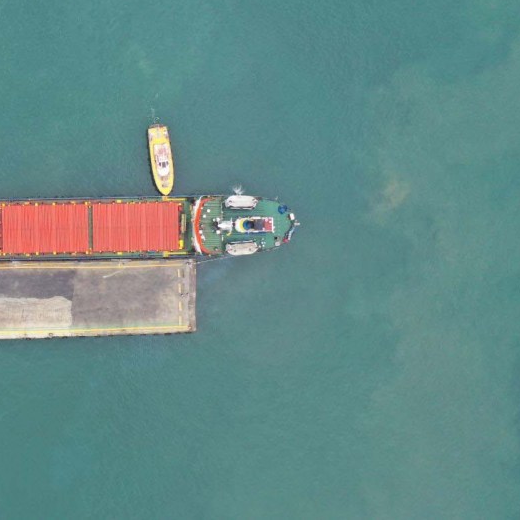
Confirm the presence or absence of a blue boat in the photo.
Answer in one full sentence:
No, I can't see a single blue boat in this photo.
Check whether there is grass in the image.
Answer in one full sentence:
No, the picture contains no grass.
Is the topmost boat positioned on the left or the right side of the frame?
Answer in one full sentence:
You can find the topmost boat on the left side of the picture.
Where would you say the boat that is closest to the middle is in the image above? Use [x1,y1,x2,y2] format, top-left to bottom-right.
[226,241,258,254]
